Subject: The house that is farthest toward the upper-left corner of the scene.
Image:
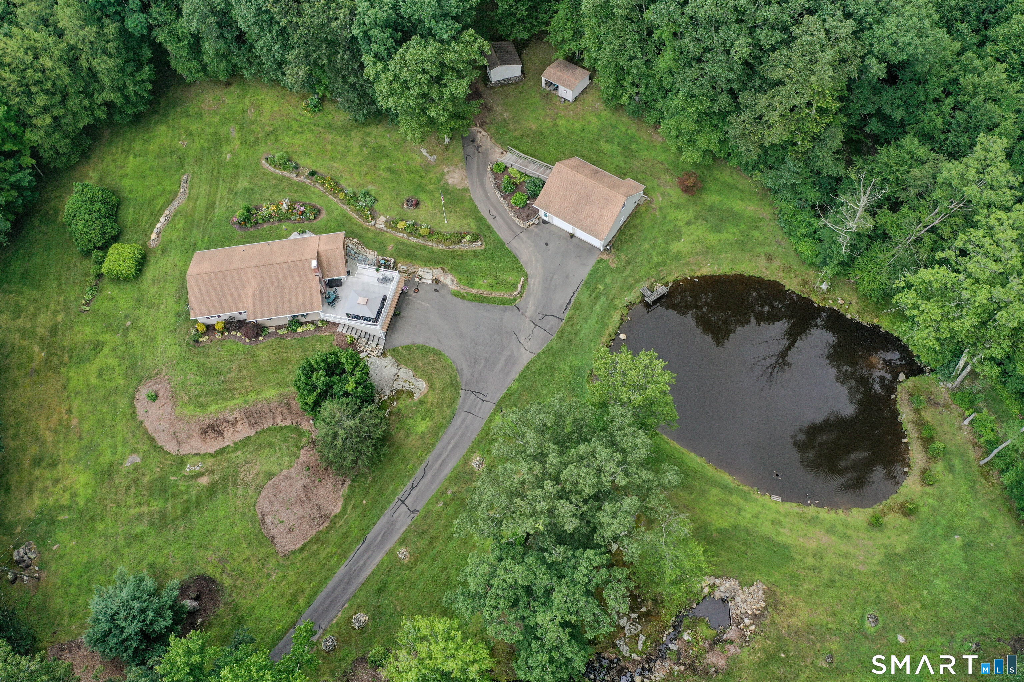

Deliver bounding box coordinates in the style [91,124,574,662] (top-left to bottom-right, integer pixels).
[185,231,349,328]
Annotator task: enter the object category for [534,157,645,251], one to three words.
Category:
building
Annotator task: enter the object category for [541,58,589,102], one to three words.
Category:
shed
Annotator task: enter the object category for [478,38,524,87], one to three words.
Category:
shed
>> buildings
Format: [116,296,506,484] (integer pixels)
[478,38,524,87]
[541,58,589,102]
[185,231,349,328]
[534,157,645,251]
